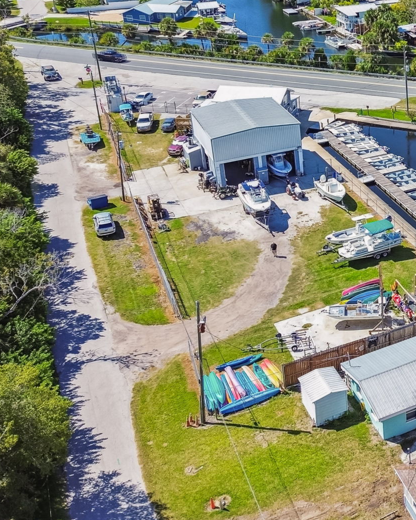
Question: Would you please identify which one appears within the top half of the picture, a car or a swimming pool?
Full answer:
You can see a car within the top half of the picture.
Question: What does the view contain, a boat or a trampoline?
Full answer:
The image shows a boat.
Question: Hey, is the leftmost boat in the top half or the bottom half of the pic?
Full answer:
The top half of the photo is where the leftmost boat is.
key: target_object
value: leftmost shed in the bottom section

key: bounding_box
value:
[295,365,349,424]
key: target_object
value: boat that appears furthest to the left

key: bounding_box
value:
[77,119,98,144]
